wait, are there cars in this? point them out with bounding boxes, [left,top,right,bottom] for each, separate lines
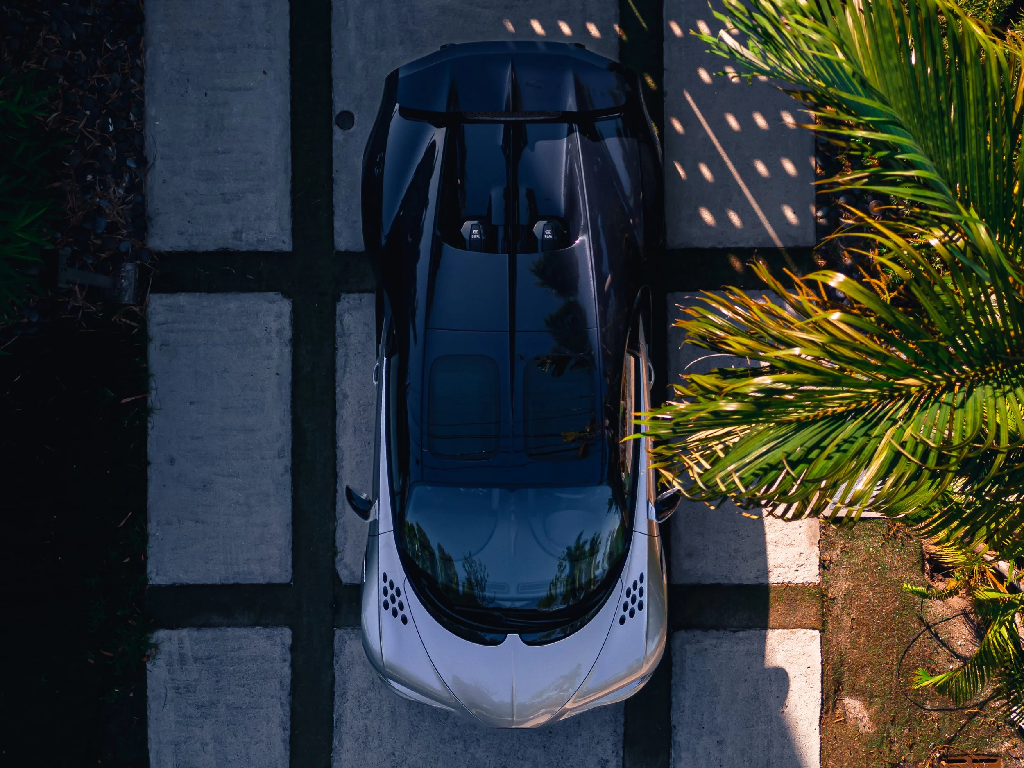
[345,37,681,729]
